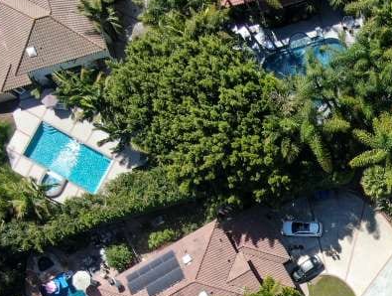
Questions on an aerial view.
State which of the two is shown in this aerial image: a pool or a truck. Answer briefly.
pool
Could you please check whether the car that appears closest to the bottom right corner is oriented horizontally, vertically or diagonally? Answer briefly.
diagonally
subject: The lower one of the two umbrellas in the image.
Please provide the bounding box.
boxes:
[73,272,92,290]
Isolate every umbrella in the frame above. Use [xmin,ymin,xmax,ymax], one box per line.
[43,94,60,110]
[73,272,92,290]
